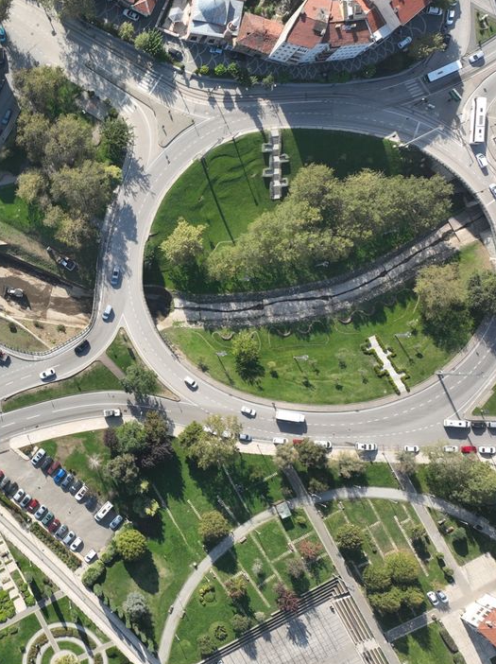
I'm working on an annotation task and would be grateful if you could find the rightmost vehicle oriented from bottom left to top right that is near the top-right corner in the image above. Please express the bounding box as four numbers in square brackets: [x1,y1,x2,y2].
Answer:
[468,52,484,65]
